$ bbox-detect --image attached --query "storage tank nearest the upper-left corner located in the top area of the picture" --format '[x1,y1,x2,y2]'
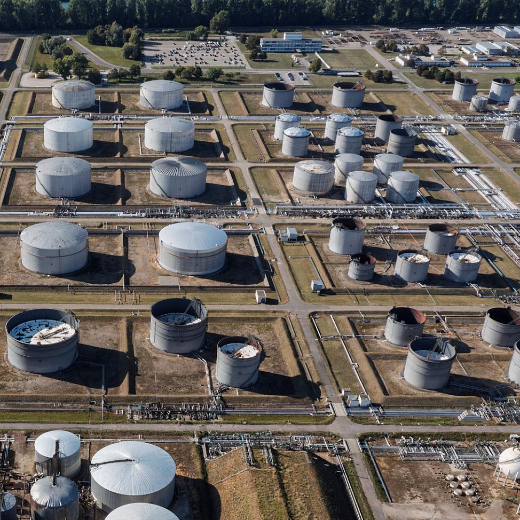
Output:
[51,80,96,109]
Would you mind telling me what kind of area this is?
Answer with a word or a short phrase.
industrial area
